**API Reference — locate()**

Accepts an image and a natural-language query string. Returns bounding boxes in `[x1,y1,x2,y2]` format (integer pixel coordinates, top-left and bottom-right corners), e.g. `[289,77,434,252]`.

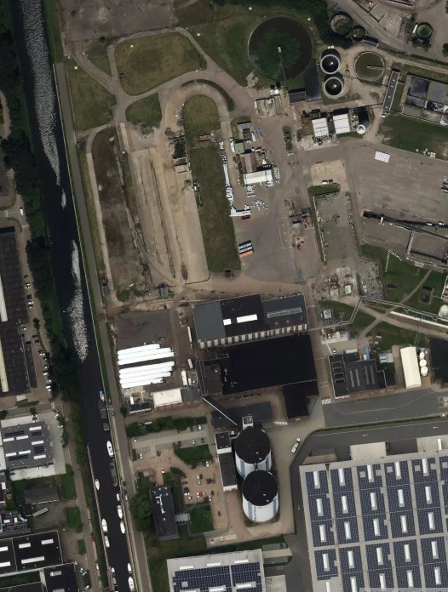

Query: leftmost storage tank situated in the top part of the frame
[249,19,312,79]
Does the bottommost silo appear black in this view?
Yes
